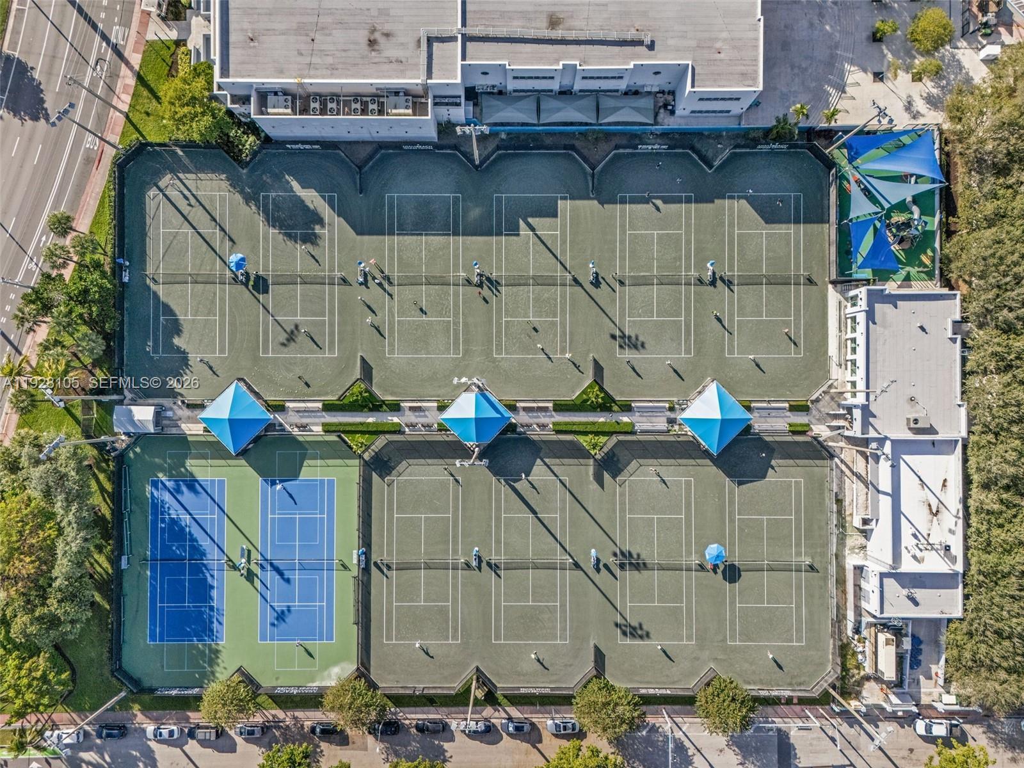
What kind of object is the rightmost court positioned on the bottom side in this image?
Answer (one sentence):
Looking closely, the rightmost court positioned on the bottom side is a tennis court.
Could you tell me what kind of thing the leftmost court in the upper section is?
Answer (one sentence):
I'd say the leftmost court in the upper section is a tennis court.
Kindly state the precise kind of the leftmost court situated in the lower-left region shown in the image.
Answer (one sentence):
The leftmost court situated in the lower-left region is a tennis court.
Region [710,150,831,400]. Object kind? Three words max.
tennis court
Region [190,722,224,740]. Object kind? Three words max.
car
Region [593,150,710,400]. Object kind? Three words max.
tennis court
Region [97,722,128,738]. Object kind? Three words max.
car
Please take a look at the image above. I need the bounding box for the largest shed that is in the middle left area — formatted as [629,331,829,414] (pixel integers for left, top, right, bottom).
[115,407,171,433]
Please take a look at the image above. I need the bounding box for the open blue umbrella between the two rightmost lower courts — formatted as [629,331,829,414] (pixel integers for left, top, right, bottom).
[705,544,725,564]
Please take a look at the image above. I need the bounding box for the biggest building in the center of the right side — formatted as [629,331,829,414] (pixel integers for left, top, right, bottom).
[821,286,967,618]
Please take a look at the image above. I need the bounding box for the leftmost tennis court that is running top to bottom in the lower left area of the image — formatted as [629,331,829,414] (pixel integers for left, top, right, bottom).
[122,436,241,687]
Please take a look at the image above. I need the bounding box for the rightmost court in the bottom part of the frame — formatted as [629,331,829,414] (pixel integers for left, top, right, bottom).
[712,435,831,689]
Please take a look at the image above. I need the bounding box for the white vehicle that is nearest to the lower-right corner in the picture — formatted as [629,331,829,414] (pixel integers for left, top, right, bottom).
[914,717,956,736]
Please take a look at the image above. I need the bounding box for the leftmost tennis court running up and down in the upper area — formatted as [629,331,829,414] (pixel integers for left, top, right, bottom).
[124,148,243,400]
